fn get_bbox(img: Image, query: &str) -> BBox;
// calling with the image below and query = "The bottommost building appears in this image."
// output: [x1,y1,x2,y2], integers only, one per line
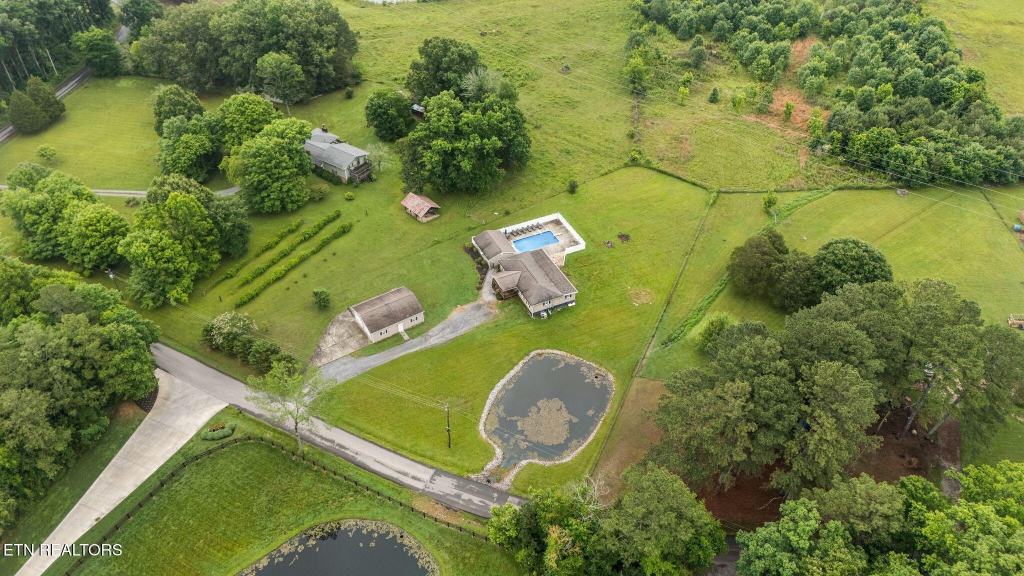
[350,286,425,343]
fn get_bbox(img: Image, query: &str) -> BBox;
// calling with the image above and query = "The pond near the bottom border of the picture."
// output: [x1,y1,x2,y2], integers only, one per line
[245,521,438,576]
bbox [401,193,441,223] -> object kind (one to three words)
building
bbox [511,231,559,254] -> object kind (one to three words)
swimming pool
